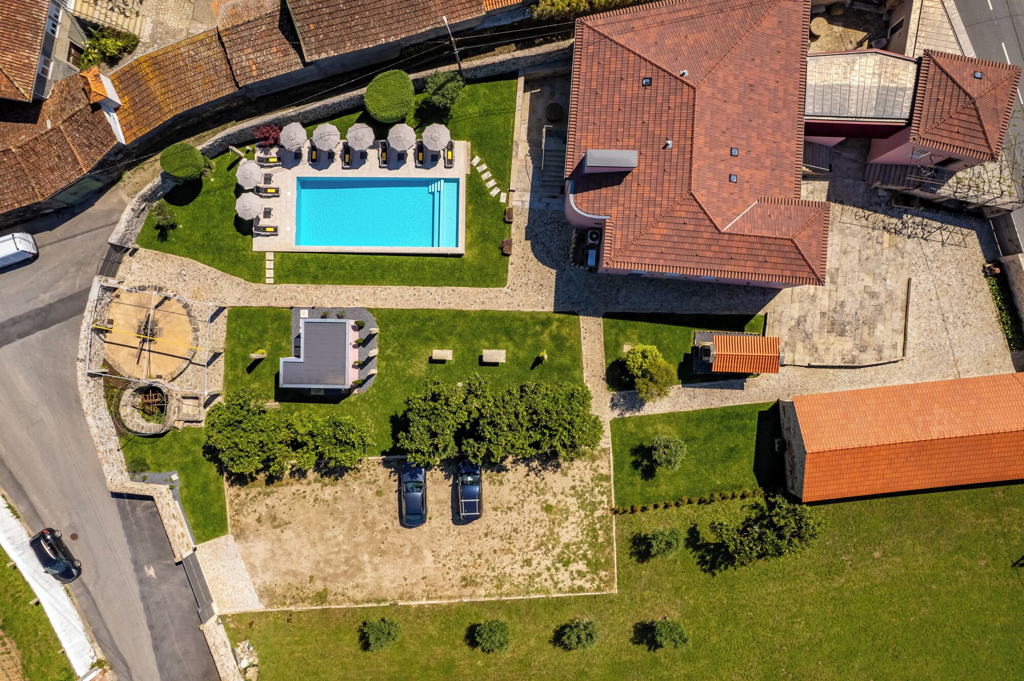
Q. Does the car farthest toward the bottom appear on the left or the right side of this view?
left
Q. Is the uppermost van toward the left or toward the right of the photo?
left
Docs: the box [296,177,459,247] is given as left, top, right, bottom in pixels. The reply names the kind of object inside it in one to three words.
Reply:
swimming pool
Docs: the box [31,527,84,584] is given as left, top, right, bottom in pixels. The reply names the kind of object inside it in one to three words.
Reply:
car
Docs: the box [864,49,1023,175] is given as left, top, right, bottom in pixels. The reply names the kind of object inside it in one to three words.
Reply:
house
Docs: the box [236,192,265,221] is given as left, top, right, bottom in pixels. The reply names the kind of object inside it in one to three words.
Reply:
umbrella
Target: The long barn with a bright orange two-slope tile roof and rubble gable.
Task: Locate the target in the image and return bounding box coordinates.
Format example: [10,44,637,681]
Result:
[779,374,1024,510]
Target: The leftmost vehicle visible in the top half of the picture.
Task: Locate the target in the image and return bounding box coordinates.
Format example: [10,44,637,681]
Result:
[0,232,36,270]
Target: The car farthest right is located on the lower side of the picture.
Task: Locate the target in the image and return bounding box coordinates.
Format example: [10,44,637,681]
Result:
[455,460,484,524]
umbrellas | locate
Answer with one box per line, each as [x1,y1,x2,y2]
[389,125,418,154]
[236,192,265,221]
[423,123,451,152]
[349,124,377,153]
[280,124,309,152]
[237,162,267,191]
[314,123,343,152]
